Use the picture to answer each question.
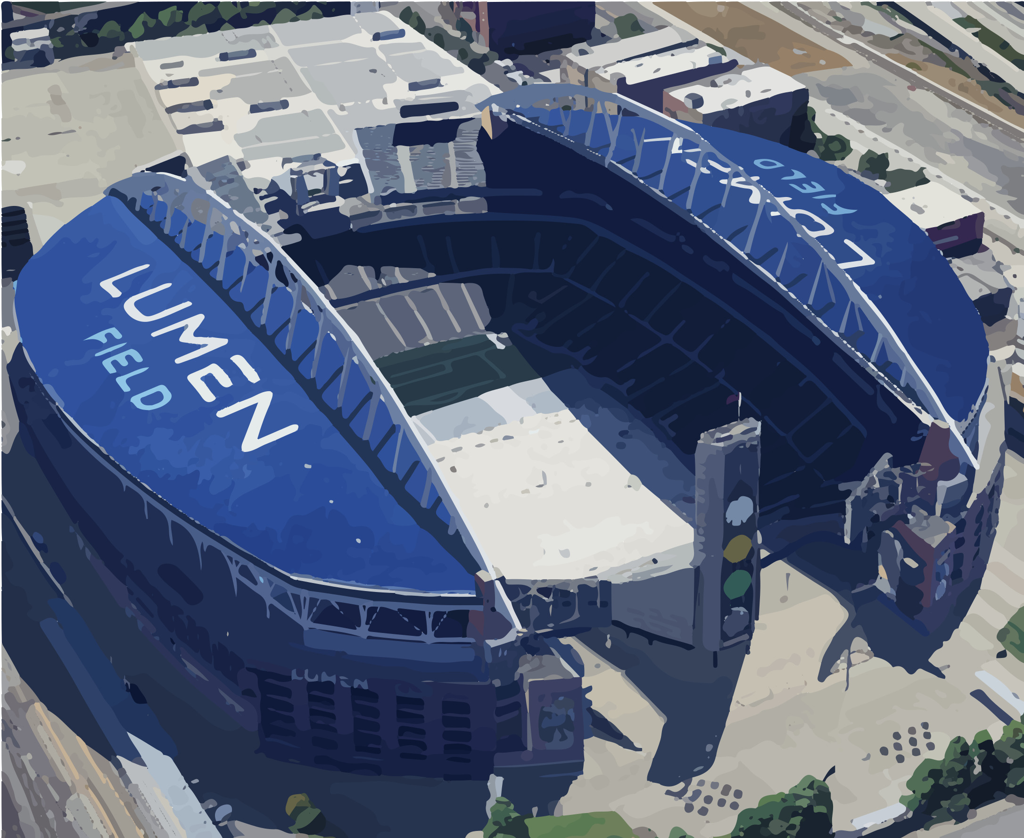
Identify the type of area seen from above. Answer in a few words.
sports ground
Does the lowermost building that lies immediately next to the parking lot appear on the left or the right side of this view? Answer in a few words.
left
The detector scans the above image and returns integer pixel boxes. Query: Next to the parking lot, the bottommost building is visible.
[0,201,47,272]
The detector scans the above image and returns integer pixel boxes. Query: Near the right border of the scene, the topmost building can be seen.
[875,178,975,249]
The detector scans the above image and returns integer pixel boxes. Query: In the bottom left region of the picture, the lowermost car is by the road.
[200,797,220,813]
